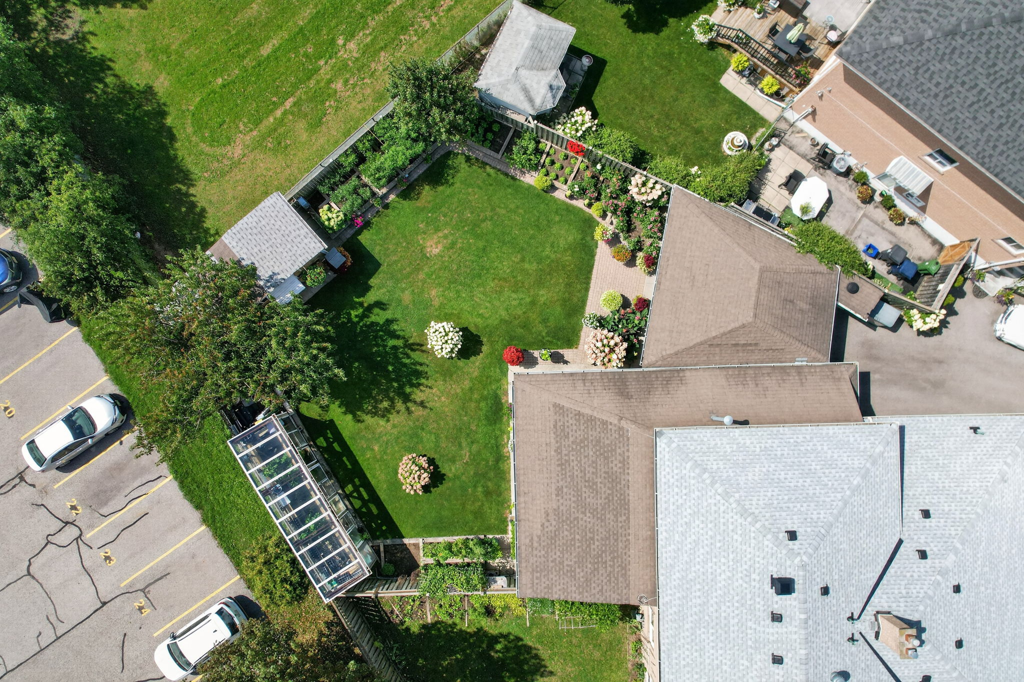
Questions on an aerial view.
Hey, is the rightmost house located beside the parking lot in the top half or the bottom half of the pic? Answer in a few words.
bottom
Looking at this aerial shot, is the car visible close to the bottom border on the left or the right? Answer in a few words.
left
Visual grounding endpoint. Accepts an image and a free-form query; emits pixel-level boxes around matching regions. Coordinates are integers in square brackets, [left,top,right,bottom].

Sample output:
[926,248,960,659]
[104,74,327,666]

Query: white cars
[149,589,258,682]
[993,308,1024,359]
[16,391,130,479]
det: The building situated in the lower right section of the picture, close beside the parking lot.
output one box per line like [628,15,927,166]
[509,361,1024,682]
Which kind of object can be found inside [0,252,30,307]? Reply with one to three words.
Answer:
car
